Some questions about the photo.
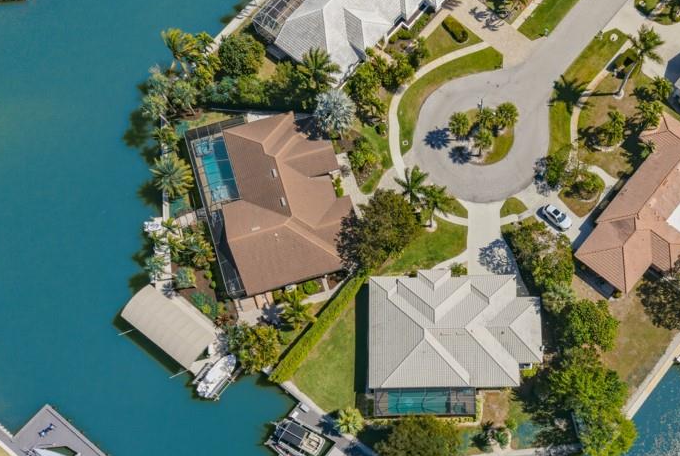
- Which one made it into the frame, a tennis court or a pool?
pool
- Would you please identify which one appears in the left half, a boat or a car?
boat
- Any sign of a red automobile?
No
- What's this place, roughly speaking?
residential area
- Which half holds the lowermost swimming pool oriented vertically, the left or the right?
left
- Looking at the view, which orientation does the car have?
diagonally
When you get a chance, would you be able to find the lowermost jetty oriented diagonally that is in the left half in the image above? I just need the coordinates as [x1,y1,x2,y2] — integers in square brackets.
[191,337,224,376]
